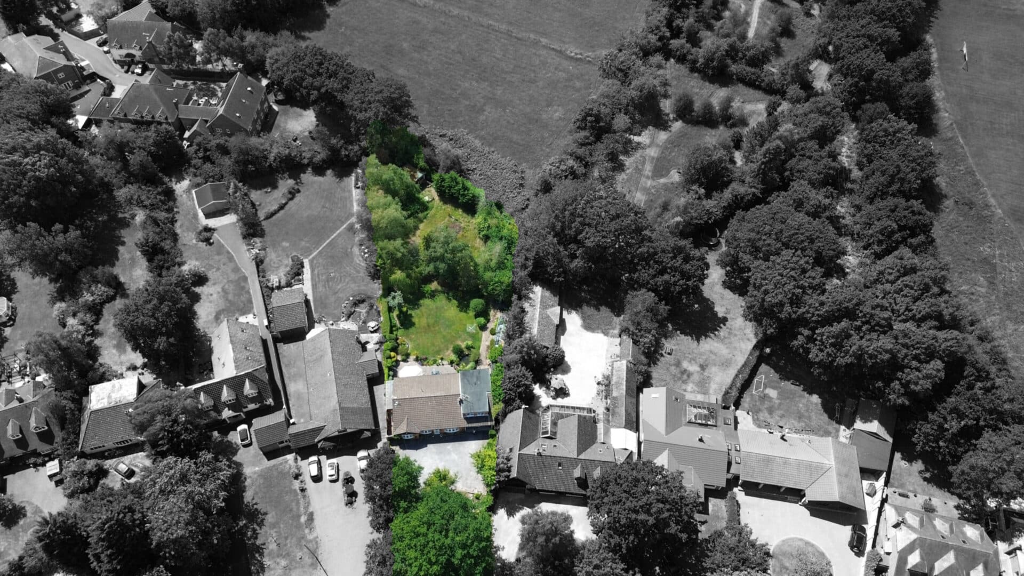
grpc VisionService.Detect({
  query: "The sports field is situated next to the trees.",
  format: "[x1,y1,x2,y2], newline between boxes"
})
[930,0,1024,241]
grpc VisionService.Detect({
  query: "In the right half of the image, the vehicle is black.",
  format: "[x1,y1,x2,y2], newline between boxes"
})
[847,521,868,557]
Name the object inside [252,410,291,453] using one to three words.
building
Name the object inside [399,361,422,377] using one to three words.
umbrella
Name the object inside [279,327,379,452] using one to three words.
house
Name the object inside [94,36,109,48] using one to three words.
vehicle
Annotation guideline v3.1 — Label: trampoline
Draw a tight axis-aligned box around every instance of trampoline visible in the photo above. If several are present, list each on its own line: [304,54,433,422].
[700,225,723,247]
